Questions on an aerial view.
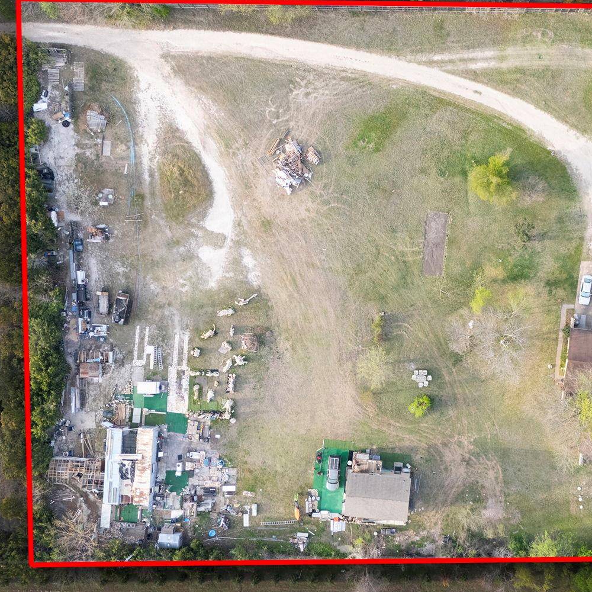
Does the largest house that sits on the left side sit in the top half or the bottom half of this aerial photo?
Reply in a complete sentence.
It is in the bottom half that the largest house that sits on the left side appears.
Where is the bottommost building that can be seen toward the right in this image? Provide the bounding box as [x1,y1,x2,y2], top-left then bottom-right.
[342,469,411,525]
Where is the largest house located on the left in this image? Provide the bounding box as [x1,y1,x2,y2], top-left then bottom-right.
[101,426,159,528]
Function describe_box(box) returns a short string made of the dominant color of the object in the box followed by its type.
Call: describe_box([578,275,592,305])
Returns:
white car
